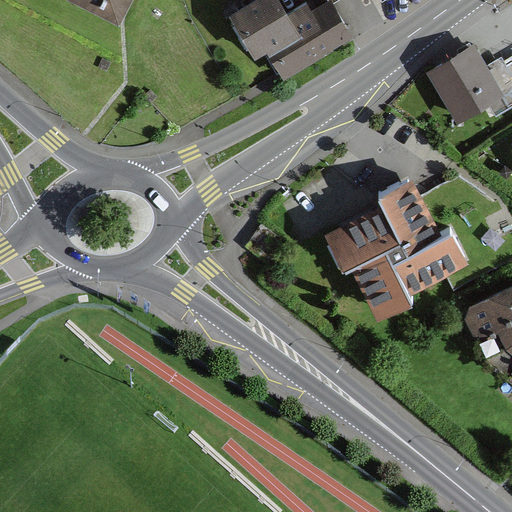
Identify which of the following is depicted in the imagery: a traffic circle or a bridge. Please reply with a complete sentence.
This aerial view contains a traffic circle.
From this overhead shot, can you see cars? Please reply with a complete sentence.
Yes, a car appears in the view.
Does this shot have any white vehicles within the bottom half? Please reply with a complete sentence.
No, no white vehicle is visible within the bottom half.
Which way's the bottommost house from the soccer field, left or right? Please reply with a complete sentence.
Compared with the soccer field, the bottommost house is located further to the right.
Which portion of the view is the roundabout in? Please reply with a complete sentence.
The roundabout appears toward the left of the photo.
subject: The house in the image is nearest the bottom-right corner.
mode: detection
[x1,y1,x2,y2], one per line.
[462,285,512,358]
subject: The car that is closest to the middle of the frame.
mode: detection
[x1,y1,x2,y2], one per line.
[296,191,314,212]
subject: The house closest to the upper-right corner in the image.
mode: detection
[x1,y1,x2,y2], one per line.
[426,45,504,124]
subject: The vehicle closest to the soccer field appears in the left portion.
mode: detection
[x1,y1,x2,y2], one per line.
[68,248,89,264]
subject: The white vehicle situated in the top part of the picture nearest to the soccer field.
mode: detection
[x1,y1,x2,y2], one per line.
[148,188,169,212]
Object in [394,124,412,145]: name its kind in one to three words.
car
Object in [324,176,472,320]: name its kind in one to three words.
house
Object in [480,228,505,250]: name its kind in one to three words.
gazebo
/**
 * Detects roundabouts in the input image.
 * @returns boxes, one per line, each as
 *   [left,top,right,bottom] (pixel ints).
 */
[55,178,166,268]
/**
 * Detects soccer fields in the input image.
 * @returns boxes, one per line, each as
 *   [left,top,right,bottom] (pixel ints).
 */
[0,307,414,512]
